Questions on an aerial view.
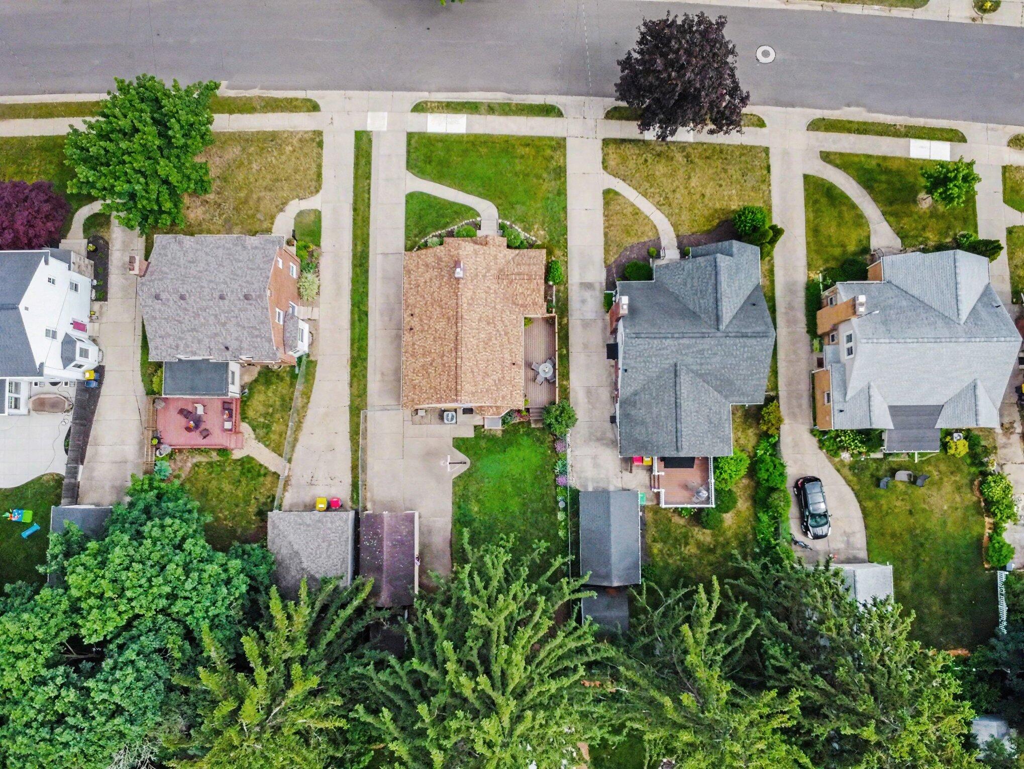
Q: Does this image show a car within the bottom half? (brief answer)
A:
Yes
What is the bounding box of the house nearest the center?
[399,235,547,418]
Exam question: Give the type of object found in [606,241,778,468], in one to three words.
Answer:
house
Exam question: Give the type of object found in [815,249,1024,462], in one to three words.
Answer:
house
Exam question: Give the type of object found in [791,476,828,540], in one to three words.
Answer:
car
